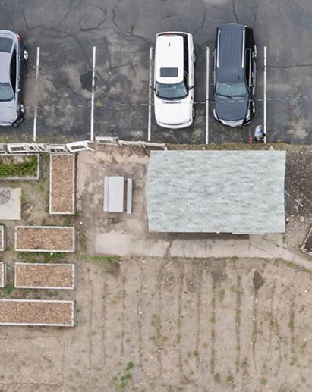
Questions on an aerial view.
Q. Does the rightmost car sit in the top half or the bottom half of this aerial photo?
top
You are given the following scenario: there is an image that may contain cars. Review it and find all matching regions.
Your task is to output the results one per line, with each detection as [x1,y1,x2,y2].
[147,32,196,129]
[208,20,255,128]
[0,30,26,128]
